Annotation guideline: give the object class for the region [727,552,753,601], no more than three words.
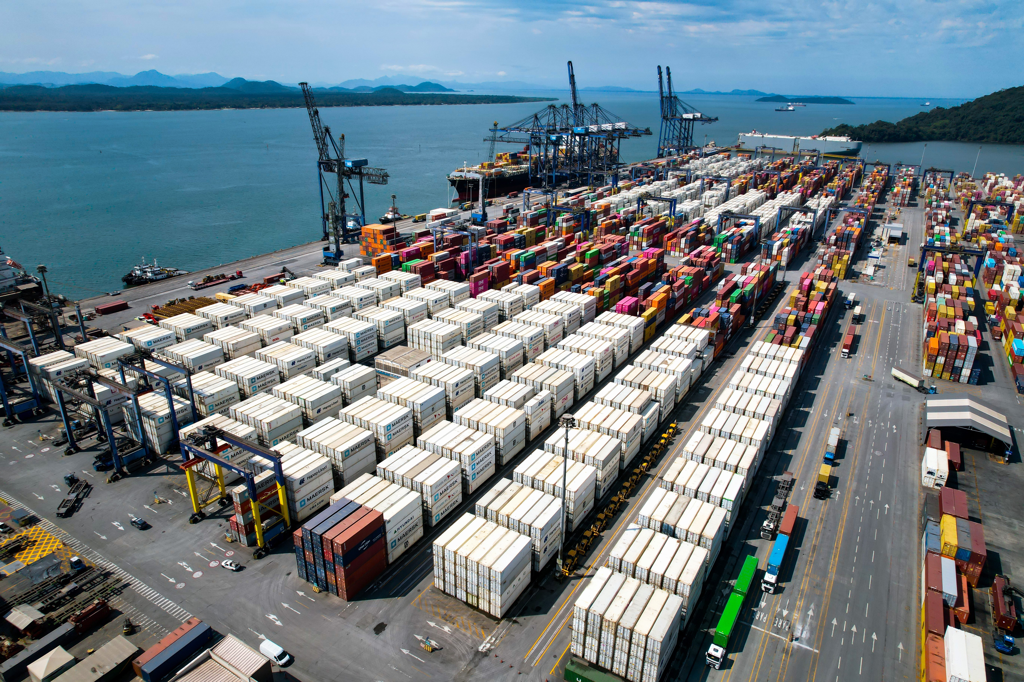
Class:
shipping container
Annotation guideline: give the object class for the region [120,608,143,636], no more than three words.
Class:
work vehicle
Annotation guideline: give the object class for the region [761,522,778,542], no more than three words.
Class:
vehicle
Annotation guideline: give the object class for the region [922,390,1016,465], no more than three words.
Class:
shed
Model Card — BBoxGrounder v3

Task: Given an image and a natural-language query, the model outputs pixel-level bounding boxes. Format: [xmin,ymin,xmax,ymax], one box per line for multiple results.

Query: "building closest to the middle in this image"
[372,346,433,378]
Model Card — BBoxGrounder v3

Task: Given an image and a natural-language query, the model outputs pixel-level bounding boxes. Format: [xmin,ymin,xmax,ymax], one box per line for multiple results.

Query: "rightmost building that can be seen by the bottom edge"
[163,631,260,682]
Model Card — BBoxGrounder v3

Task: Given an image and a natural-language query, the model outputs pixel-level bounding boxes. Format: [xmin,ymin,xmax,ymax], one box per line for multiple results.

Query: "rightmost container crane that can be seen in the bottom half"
[168,417,301,560]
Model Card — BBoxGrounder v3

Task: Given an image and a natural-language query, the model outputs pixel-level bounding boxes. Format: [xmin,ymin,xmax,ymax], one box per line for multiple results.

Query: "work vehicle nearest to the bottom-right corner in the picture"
[994,633,1013,657]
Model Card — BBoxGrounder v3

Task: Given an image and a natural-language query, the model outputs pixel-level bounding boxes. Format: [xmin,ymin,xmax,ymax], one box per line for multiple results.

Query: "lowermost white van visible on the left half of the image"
[261,638,294,672]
